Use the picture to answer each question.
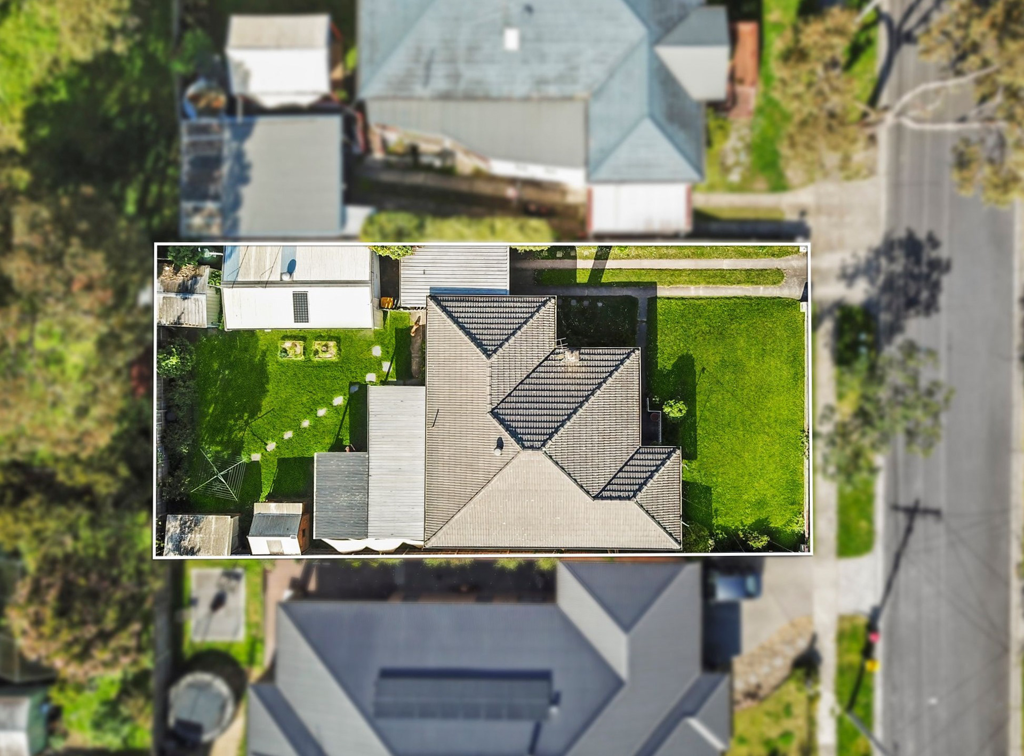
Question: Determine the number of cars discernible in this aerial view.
one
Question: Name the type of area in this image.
residential area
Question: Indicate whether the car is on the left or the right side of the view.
right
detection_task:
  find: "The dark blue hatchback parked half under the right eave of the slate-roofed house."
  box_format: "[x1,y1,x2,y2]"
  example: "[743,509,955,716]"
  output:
[704,565,761,605]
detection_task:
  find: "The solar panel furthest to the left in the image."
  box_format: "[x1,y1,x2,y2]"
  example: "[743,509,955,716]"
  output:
[295,292,310,323]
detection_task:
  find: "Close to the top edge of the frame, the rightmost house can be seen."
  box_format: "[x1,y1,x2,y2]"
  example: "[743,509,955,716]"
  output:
[356,0,730,184]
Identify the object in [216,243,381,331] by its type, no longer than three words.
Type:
shed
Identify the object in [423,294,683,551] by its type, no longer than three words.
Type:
house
